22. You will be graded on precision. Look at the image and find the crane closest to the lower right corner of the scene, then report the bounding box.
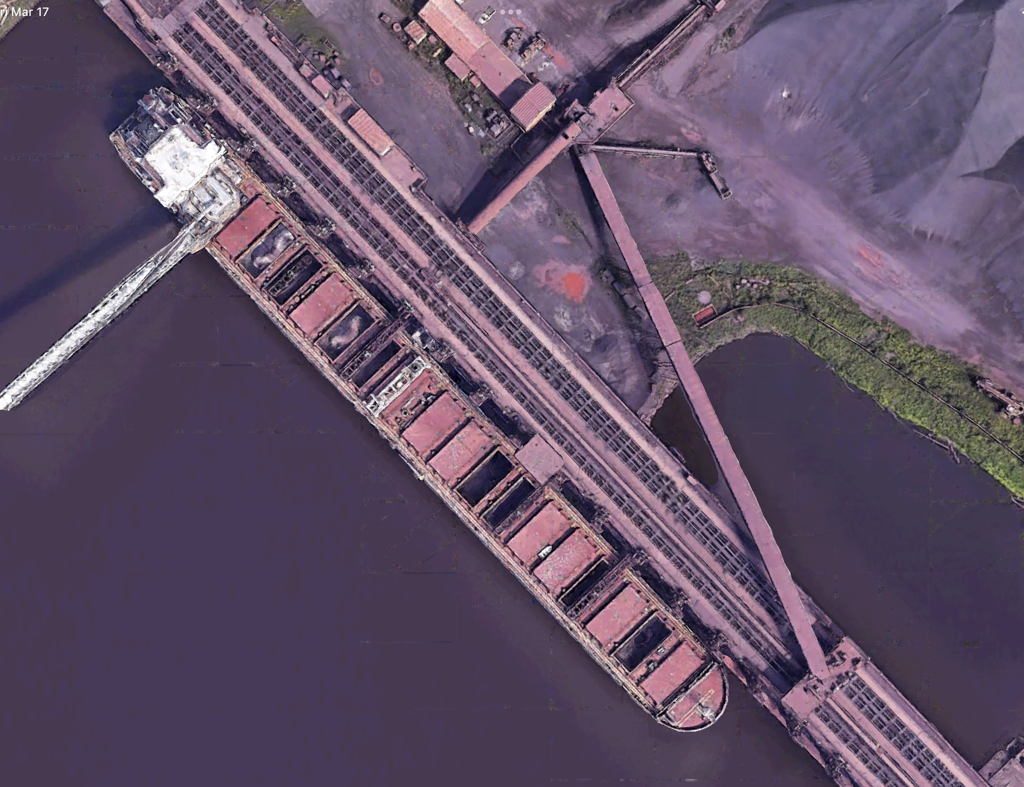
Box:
[972,377,1024,418]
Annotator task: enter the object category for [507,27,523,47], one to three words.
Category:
work vehicle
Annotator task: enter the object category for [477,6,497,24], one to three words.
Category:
vehicle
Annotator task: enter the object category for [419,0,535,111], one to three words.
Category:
building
